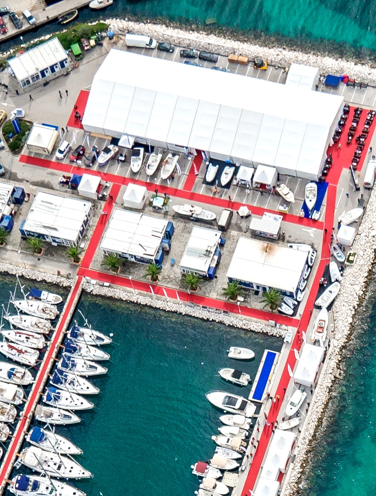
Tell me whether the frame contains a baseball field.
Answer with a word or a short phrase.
No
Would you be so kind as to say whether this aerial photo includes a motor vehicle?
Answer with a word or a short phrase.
Yes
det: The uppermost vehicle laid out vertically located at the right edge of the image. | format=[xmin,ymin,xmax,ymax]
[363,159,376,189]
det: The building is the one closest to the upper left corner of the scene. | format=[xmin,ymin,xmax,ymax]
[7,37,69,87]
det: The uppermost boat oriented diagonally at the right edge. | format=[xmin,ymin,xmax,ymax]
[337,208,363,225]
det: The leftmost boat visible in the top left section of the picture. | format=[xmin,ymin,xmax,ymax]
[56,9,78,25]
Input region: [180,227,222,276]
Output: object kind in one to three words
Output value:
building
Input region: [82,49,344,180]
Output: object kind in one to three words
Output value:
tent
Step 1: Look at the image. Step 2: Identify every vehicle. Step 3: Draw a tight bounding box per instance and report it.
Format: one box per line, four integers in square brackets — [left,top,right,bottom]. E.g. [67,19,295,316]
[363,159,376,189]
[84,145,101,166]
[0,15,8,33]
[20,7,37,25]
[69,142,85,161]
[218,206,230,231]
[155,42,176,53]
[197,49,219,63]
[56,139,70,158]
[210,64,227,72]
[6,9,24,28]
[0,5,11,15]
[184,58,202,66]
[0,136,6,150]
[179,49,198,59]
[253,57,267,69]
[125,32,158,49]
